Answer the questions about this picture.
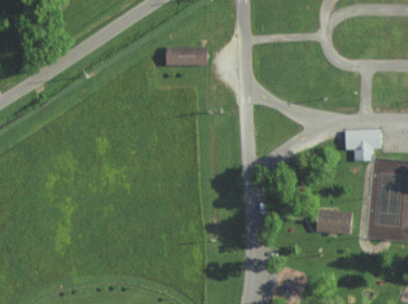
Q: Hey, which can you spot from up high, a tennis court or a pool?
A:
tennis court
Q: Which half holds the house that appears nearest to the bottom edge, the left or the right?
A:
right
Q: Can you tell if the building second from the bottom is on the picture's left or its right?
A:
right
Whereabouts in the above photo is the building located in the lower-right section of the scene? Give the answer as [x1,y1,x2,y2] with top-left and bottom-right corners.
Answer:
[316,208,352,236]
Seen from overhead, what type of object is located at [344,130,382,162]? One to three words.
building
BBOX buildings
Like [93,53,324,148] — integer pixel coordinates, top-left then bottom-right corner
[316,208,352,236]
[344,130,382,162]
[166,46,208,67]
